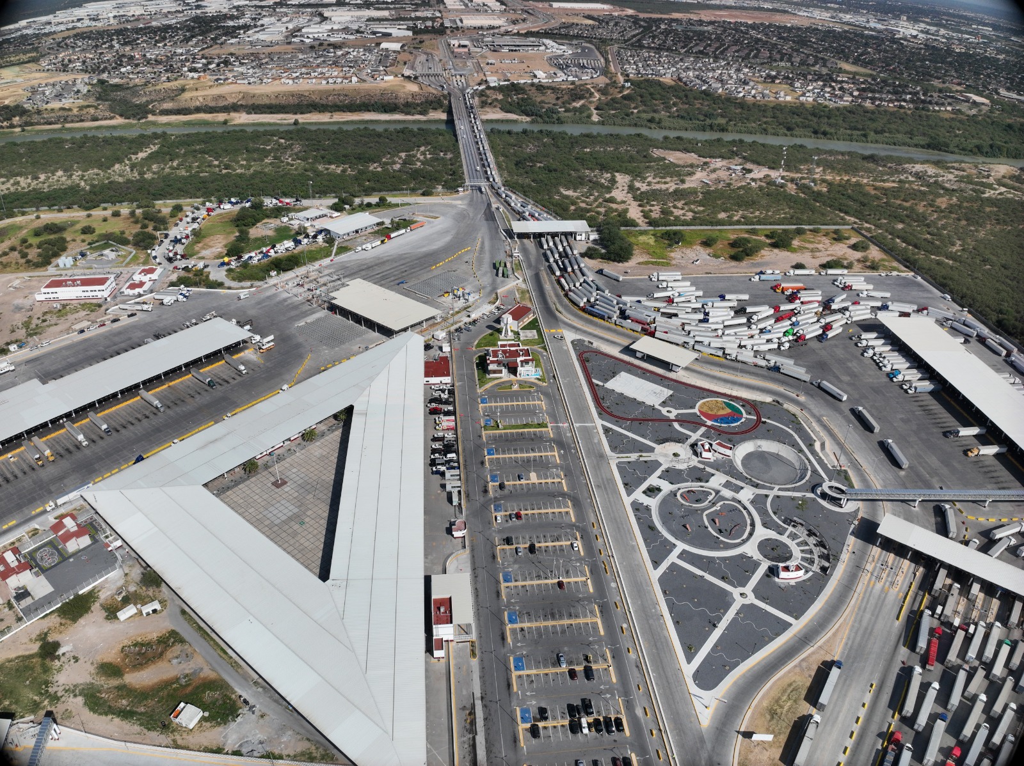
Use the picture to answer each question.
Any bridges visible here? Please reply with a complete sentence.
Yes, a bridge is visible in the scene.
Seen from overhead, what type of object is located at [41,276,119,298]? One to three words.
building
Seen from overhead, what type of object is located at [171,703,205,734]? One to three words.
house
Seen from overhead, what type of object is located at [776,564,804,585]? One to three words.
building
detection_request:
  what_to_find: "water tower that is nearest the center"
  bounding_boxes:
[498,318,515,344]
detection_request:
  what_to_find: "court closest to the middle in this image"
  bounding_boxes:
[606,371,673,405]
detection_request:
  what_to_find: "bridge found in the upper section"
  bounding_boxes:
[450,86,501,187]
